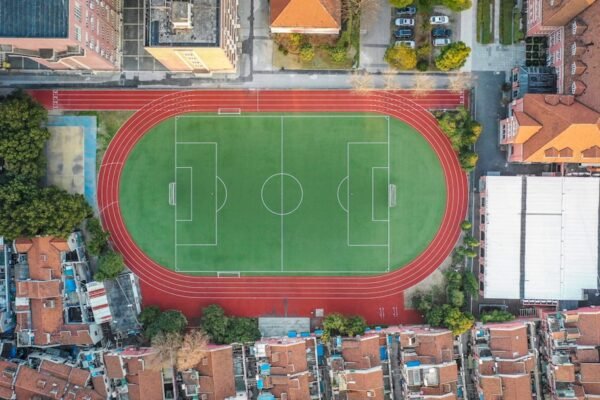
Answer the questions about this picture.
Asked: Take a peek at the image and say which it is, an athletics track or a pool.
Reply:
athletics track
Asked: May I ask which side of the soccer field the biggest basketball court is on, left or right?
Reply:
left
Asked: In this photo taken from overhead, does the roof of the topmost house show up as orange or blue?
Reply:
orange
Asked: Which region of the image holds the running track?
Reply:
center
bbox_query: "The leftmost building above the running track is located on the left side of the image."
[0,0,121,71]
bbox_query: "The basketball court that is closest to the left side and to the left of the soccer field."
[35,112,98,218]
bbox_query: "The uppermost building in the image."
[270,0,340,32]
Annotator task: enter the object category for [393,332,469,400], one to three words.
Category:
house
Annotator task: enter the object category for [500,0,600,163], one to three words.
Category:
building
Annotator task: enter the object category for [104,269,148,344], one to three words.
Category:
building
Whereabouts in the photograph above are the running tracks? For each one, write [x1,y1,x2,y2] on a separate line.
[26,90,472,327]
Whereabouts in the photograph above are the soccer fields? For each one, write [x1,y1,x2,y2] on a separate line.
[120,112,446,276]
